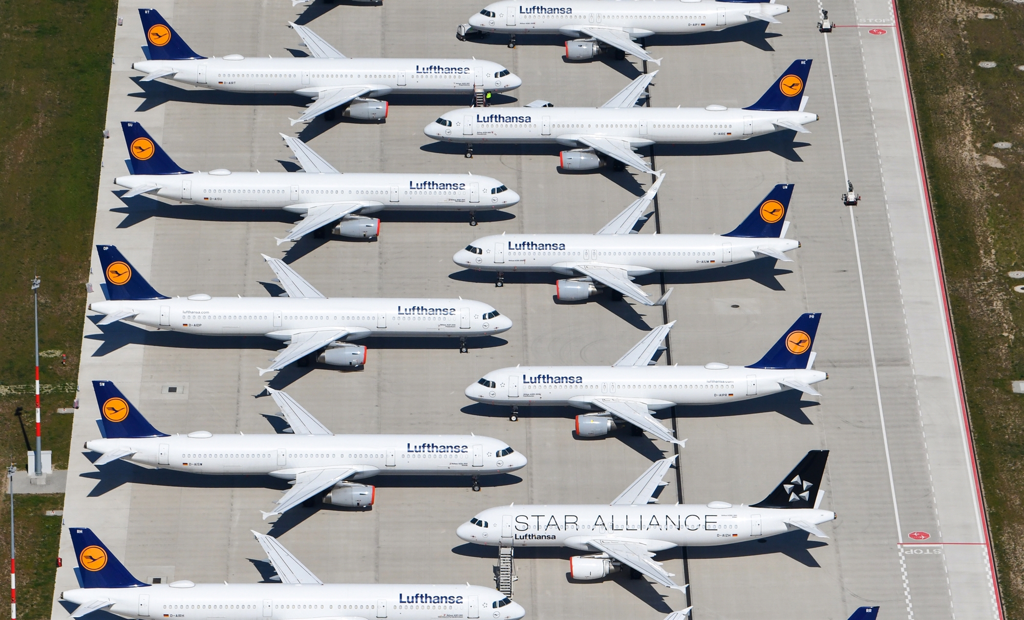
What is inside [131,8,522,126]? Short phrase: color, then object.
white airplane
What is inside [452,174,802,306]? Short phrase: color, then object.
white airplane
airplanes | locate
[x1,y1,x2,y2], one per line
[452,174,802,306]
[456,449,837,593]
[464,313,829,449]
[88,244,512,377]
[114,121,520,246]
[423,58,820,178]
[131,8,522,126]
[62,527,524,620]
[84,380,526,520]
[468,0,790,66]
